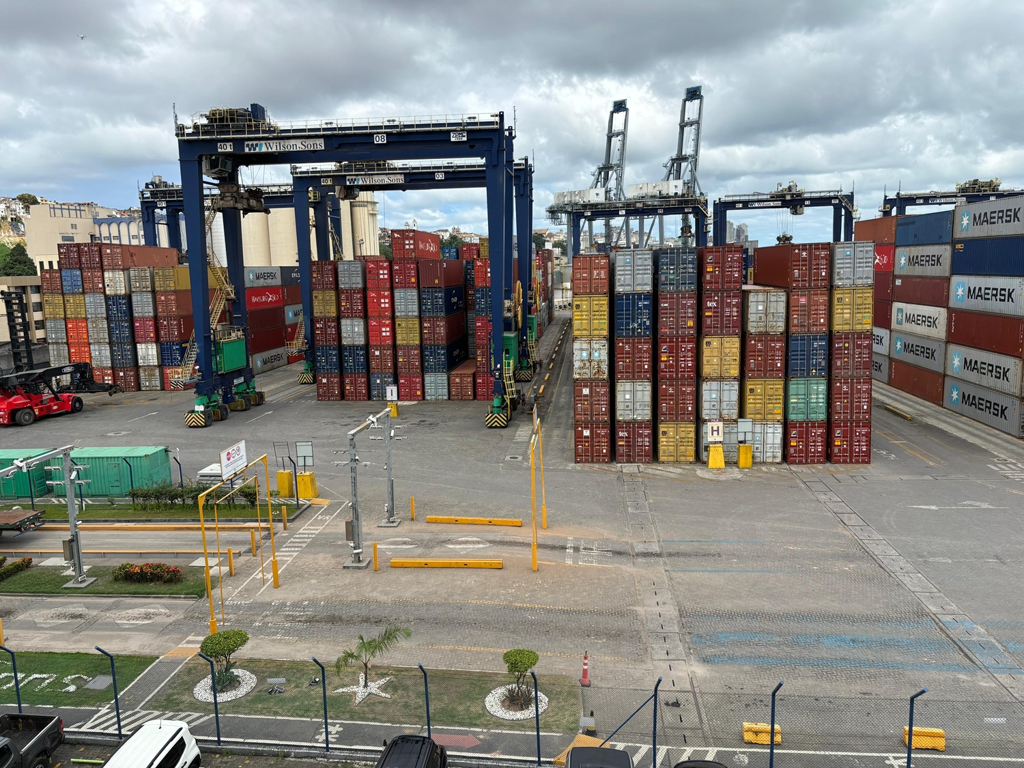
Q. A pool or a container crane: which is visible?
container crane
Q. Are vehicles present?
Yes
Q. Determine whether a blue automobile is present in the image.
No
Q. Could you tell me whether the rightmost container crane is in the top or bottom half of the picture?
top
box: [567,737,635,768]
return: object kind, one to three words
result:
car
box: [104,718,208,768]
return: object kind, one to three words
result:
car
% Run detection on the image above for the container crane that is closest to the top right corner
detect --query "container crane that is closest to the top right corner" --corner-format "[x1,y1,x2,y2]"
[870,173,1024,244]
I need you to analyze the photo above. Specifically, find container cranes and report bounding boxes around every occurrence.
[536,98,623,268]
[605,86,702,250]
[870,173,1024,244]
[277,140,561,383]
[710,181,873,247]
[166,102,551,427]
[574,185,727,256]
